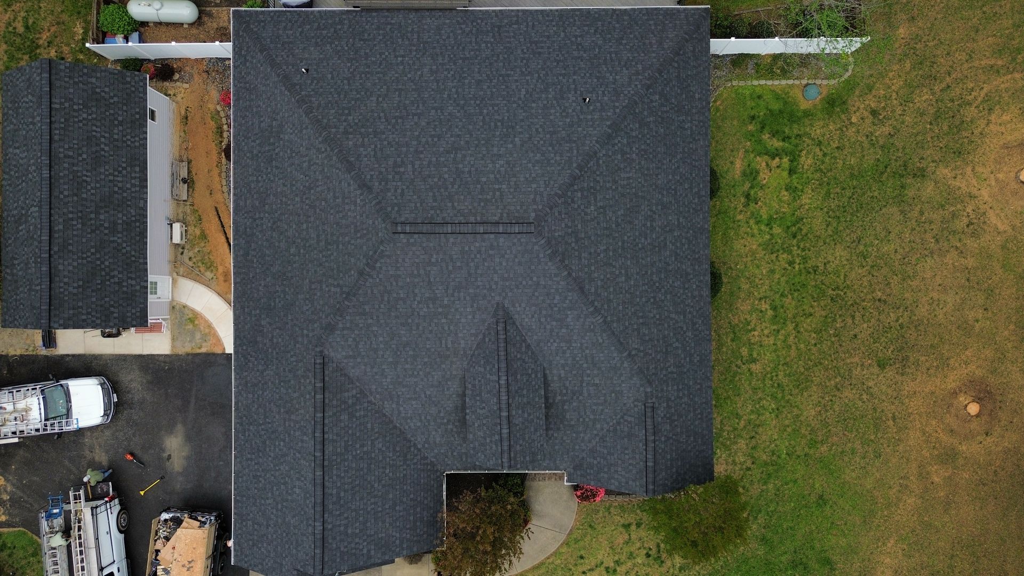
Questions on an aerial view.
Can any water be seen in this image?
No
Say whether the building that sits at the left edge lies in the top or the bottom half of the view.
top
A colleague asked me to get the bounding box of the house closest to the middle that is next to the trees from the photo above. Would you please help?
[230,6,713,576]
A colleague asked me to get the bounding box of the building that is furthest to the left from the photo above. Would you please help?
[1,57,171,331]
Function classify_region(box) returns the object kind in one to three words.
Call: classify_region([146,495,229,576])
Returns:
trailer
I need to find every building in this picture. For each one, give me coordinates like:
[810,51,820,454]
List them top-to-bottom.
[230,6,713,576]
[1,57,171,331]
